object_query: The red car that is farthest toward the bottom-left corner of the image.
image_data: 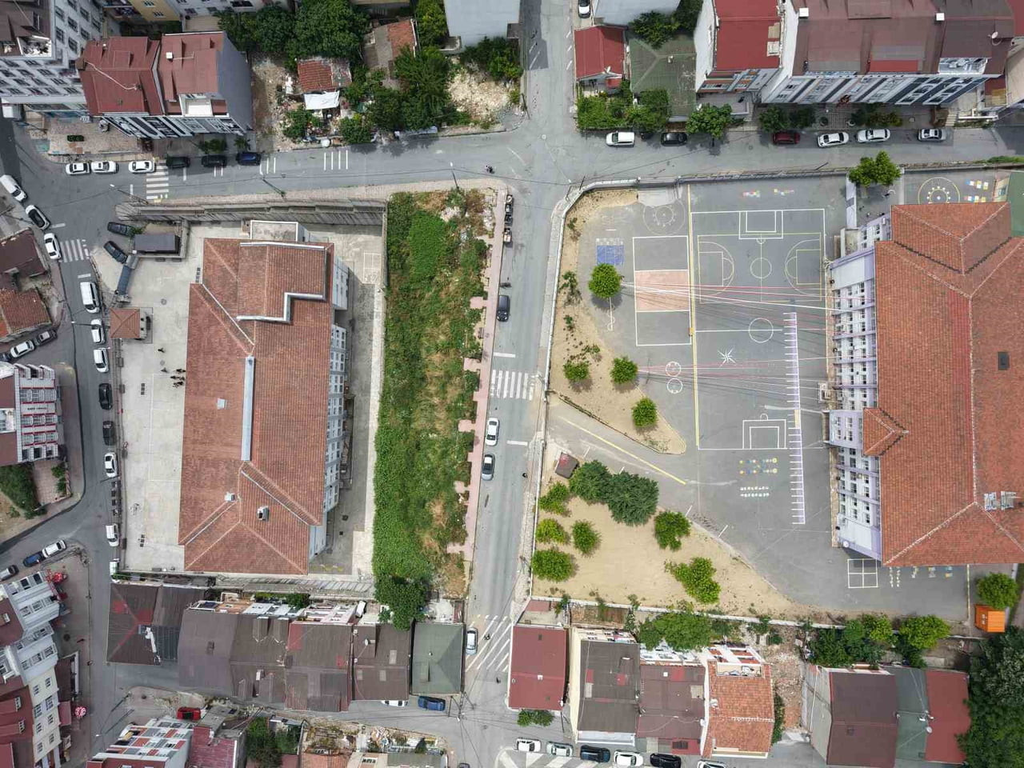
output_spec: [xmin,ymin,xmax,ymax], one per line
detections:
[177,706,203,720]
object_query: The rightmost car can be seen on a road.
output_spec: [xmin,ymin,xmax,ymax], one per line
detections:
[916,128,945,142]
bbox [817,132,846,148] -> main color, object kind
white car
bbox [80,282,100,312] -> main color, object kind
white vehicle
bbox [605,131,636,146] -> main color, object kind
white vehicle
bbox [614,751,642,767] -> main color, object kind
white car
